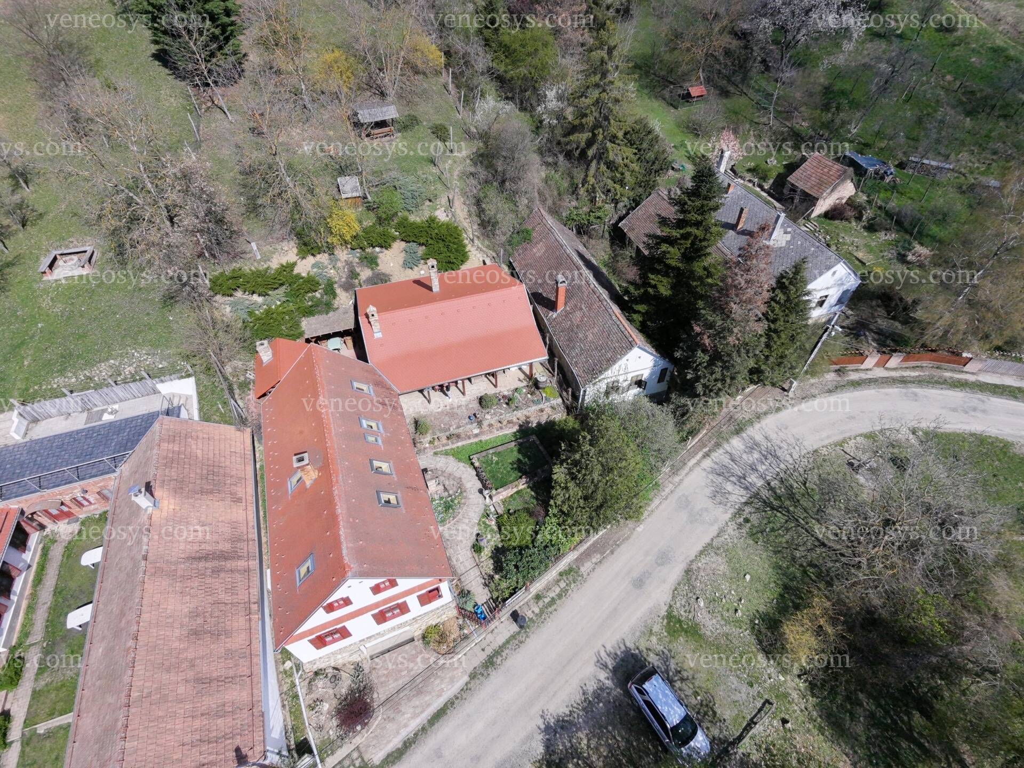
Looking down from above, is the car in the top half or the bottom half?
bottom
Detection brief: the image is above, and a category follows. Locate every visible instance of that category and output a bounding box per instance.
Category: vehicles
[628,662,720,768]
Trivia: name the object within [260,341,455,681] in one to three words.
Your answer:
house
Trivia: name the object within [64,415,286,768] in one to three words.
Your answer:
house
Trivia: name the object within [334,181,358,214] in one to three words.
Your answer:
shed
